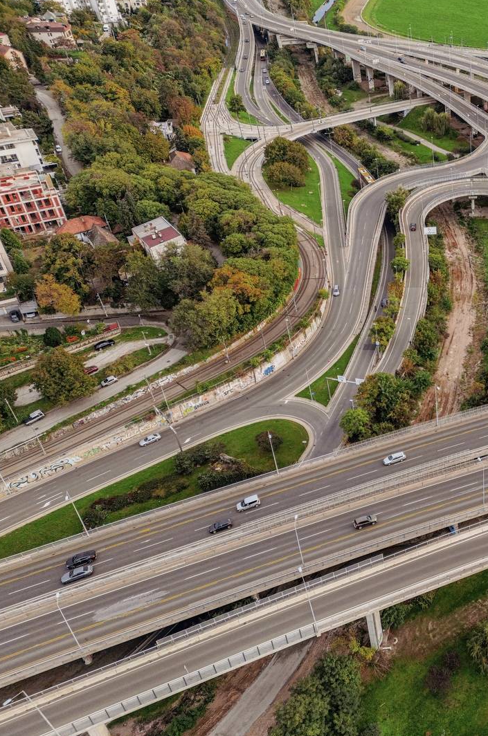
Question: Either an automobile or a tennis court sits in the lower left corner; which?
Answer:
automobile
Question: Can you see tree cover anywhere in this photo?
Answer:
Yes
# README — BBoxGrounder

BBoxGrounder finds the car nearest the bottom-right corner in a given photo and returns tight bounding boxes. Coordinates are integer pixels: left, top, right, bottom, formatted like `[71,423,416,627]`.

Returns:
[350,513,379,530]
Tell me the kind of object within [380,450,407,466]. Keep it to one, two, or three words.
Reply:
car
